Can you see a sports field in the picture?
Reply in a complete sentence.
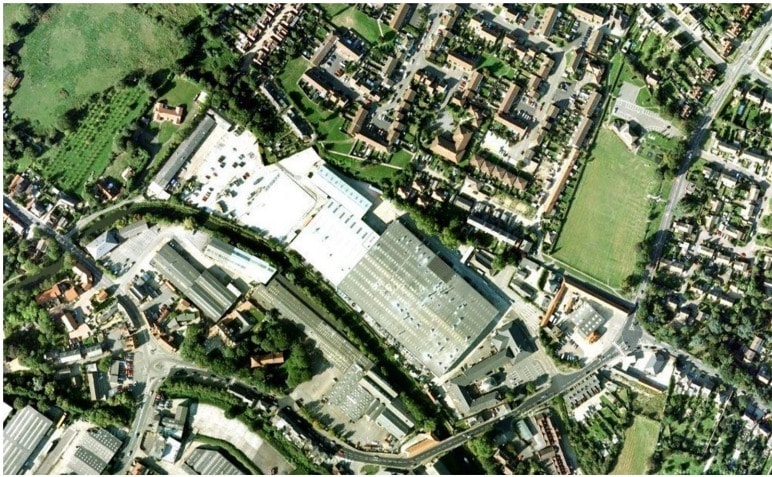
Yes, the image includes a sports field.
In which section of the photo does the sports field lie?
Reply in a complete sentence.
The sports field is located in the right region of the scene.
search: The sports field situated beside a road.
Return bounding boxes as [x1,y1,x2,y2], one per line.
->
[550,123,664,290]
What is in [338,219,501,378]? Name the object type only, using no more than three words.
building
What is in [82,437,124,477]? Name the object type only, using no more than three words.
building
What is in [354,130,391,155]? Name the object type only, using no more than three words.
house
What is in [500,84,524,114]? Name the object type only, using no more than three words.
house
